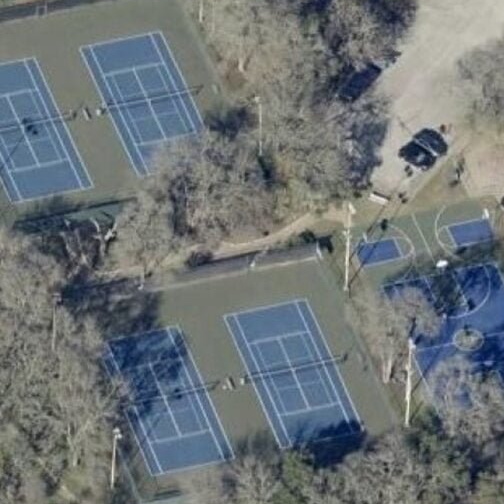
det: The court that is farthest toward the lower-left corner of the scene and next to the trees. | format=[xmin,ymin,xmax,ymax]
[95,324,235,475]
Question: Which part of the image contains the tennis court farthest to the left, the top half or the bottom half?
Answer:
top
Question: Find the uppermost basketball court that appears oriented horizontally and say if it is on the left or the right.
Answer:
right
